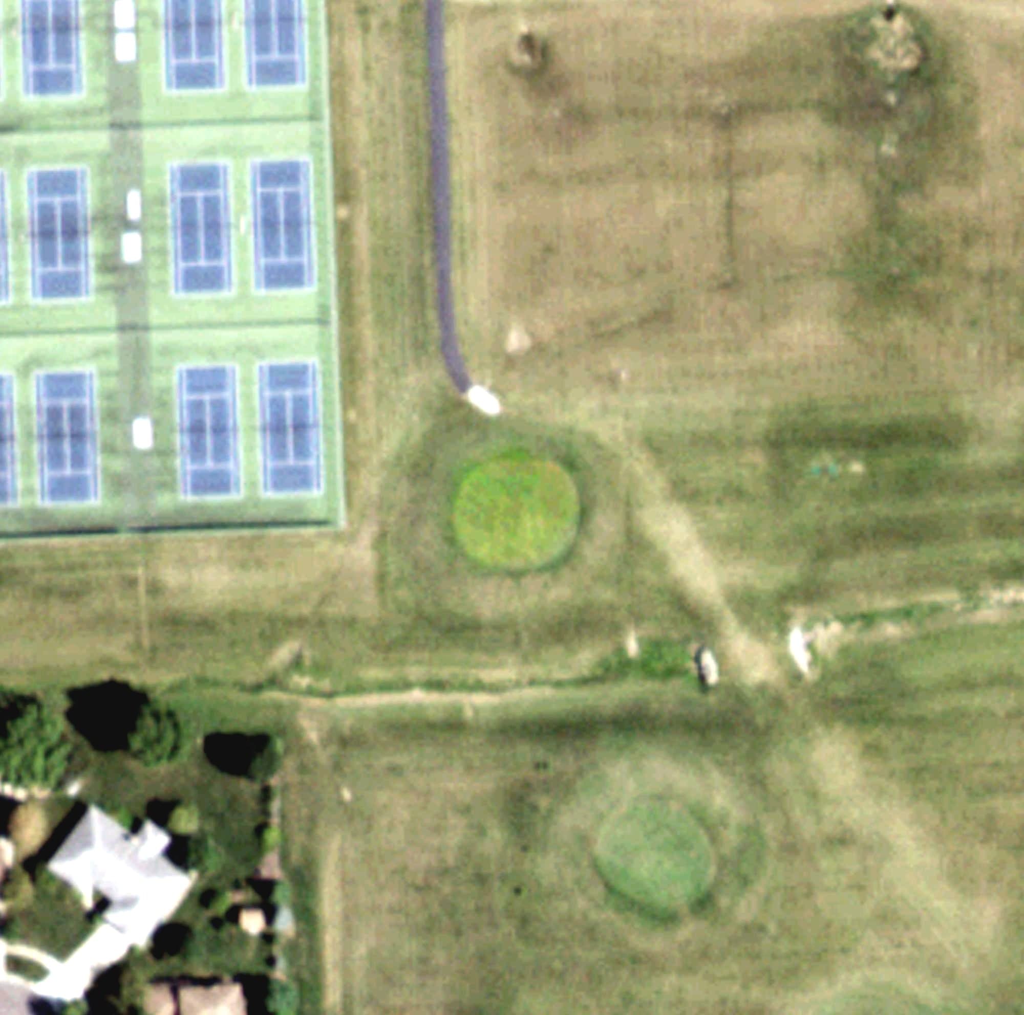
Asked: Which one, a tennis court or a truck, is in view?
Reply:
tennis court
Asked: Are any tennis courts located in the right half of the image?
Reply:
No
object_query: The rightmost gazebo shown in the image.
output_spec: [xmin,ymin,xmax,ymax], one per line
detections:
[237,908,265,939]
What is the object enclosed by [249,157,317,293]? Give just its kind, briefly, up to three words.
tennis court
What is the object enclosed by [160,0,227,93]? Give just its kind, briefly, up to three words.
tennis court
